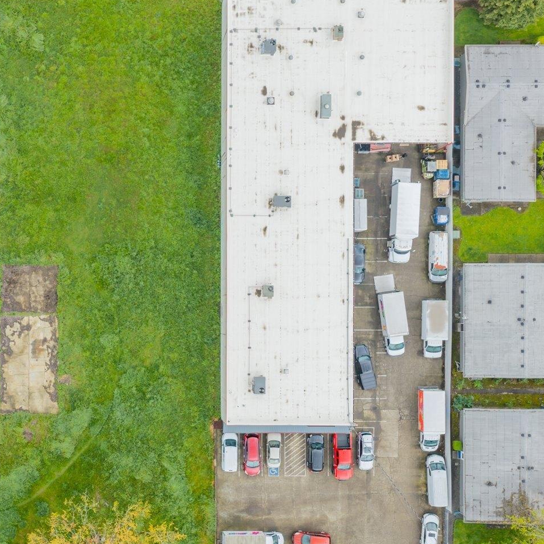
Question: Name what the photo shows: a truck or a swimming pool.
truck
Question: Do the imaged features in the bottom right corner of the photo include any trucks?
Yes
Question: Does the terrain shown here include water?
No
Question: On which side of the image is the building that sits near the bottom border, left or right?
right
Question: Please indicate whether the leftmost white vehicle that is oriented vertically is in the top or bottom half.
bottom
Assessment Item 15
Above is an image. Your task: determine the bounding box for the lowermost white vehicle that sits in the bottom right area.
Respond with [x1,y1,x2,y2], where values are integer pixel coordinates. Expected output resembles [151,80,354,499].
[418,511,441,544]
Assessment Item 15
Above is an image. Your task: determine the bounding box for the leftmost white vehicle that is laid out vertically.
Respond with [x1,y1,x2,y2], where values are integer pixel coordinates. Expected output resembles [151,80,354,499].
[220,432,241,474]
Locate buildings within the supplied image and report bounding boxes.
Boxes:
[461,45,544,202]
[461,409,544,524]
[221,0,455,433]
[461,263,544,378]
